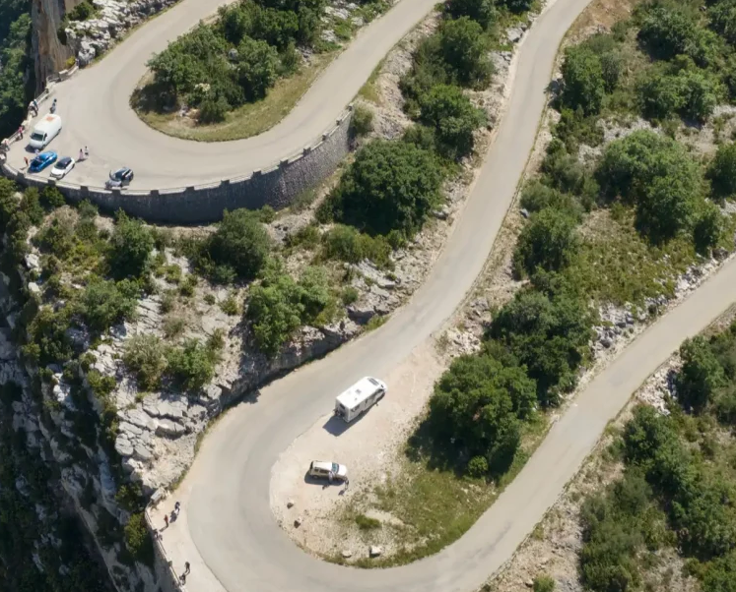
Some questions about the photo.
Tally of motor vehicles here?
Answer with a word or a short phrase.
six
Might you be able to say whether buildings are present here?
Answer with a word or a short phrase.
No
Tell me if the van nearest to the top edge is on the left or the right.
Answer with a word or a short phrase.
left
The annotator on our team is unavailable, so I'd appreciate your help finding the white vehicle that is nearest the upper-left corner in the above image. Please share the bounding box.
[31,109,64,147]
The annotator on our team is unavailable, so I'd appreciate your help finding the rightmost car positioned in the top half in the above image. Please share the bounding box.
[103,160,134,185]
